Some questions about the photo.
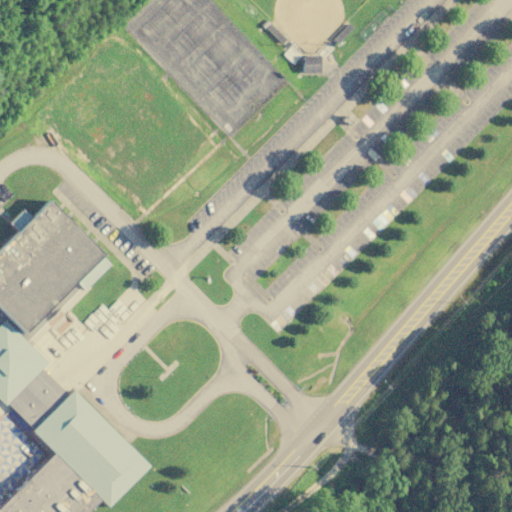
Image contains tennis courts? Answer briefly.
Yes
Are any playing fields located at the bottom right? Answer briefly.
No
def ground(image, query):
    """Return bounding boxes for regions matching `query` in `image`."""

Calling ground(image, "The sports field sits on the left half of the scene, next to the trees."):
[48,40,213,206]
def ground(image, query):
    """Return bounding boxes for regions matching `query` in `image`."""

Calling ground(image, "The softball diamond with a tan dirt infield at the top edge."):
[255,0,368,53]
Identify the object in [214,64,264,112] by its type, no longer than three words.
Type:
tennis court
